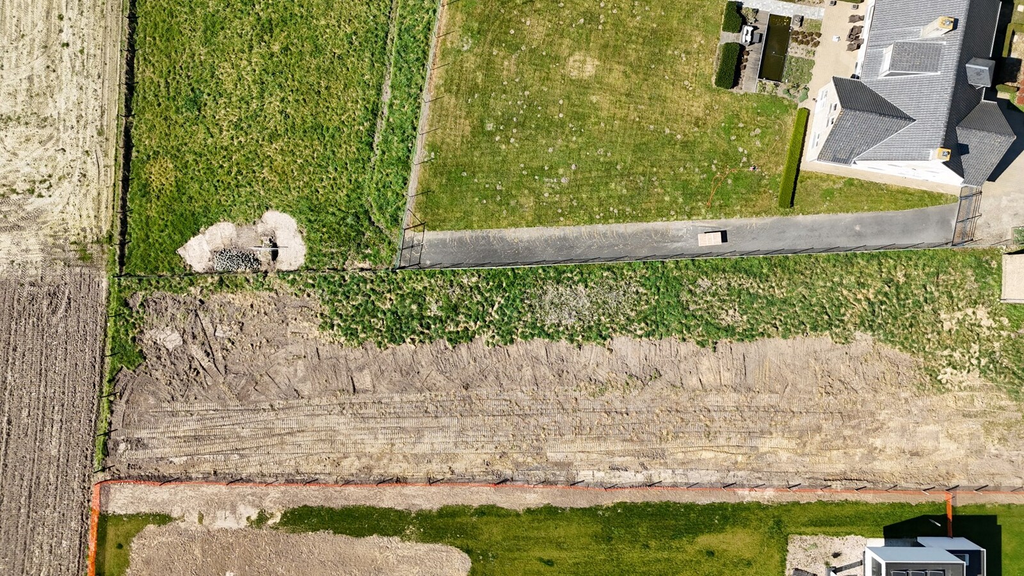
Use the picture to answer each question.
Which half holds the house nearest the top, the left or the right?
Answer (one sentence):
It is on the right.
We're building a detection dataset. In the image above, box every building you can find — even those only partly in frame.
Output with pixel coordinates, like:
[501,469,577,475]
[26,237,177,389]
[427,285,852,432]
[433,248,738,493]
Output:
[805,0,1015,186]
[863,537,984,576]
[1001,252,1024,304]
